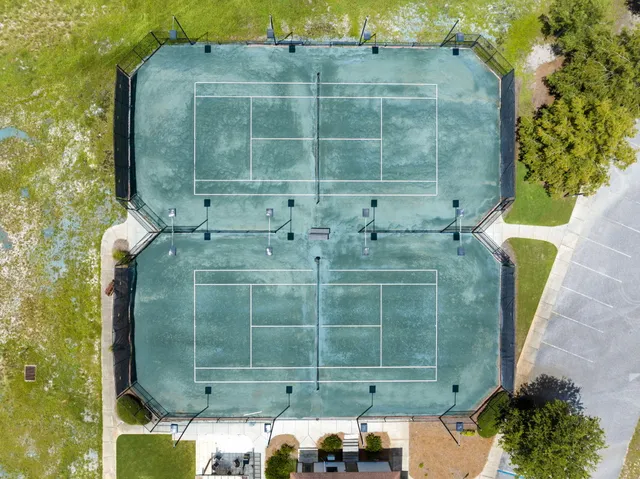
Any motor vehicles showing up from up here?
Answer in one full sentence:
No, I can't see a single motor vehicle in this photo.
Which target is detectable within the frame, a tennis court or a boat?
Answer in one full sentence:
It is a tennis court that can be seen here.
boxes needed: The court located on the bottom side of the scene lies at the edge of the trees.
[129,232,501,420]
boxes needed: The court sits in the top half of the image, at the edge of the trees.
[129,44,501,232]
